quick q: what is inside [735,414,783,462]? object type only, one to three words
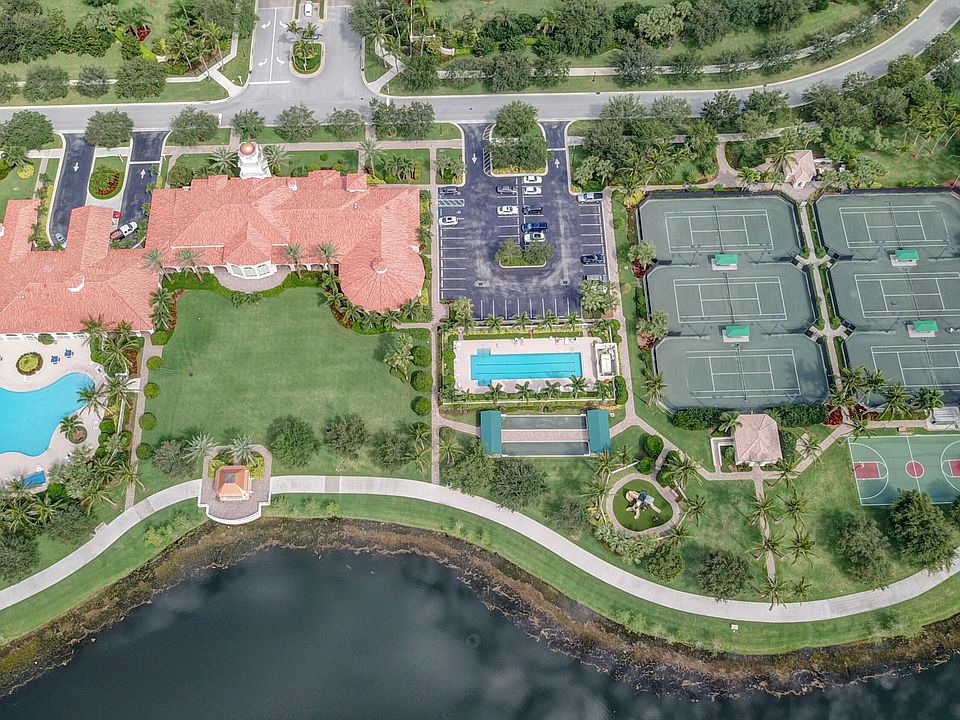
building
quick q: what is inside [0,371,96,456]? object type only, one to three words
swimming pool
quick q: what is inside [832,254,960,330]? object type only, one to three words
tennis court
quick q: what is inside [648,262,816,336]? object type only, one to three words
tennis court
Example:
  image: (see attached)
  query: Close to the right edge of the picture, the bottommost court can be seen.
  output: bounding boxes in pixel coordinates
[848,432,960,506]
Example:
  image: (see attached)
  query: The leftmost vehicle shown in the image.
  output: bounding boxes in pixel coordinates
[52,229,66,246]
